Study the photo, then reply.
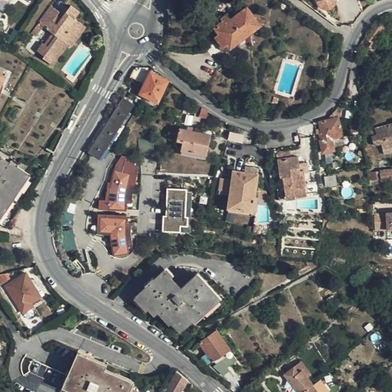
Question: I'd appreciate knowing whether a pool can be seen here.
Yes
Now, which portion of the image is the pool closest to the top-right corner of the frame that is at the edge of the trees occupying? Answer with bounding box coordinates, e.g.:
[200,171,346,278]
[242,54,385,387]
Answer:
[275,59,304,97]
